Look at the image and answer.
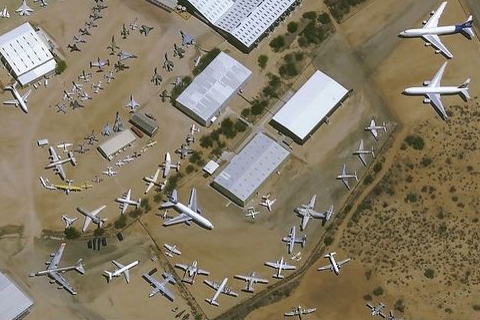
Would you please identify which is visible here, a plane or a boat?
plane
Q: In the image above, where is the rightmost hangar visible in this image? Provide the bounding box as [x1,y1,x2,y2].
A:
[272,70,348,143]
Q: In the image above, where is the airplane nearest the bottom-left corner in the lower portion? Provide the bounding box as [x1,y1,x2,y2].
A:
[29,239,87,299]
